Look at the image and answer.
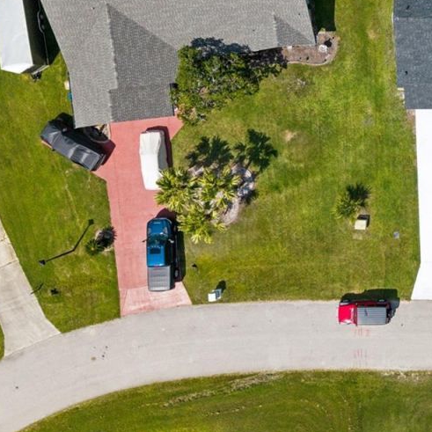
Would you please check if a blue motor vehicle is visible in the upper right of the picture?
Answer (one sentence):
No, I can find no blue motor vehicle in the upper right of the picture.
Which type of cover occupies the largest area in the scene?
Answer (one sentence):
Most of the picture is covered by grass.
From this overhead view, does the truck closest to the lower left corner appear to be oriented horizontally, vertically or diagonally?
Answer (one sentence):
What the image shows is the truck closest to the lower left corner lying vertically.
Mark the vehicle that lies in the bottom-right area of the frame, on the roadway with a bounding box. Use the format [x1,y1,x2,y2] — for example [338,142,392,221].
[341,301,389,328]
